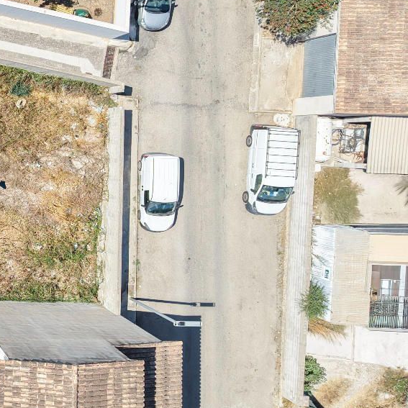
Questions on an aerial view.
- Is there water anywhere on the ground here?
No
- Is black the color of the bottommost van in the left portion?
No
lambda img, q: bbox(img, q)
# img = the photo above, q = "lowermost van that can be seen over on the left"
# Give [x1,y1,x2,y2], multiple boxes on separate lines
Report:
[140,153,184,232]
